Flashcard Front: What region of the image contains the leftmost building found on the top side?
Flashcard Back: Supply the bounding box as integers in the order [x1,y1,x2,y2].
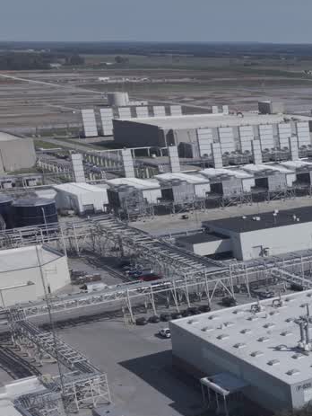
[0,137,37,178]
